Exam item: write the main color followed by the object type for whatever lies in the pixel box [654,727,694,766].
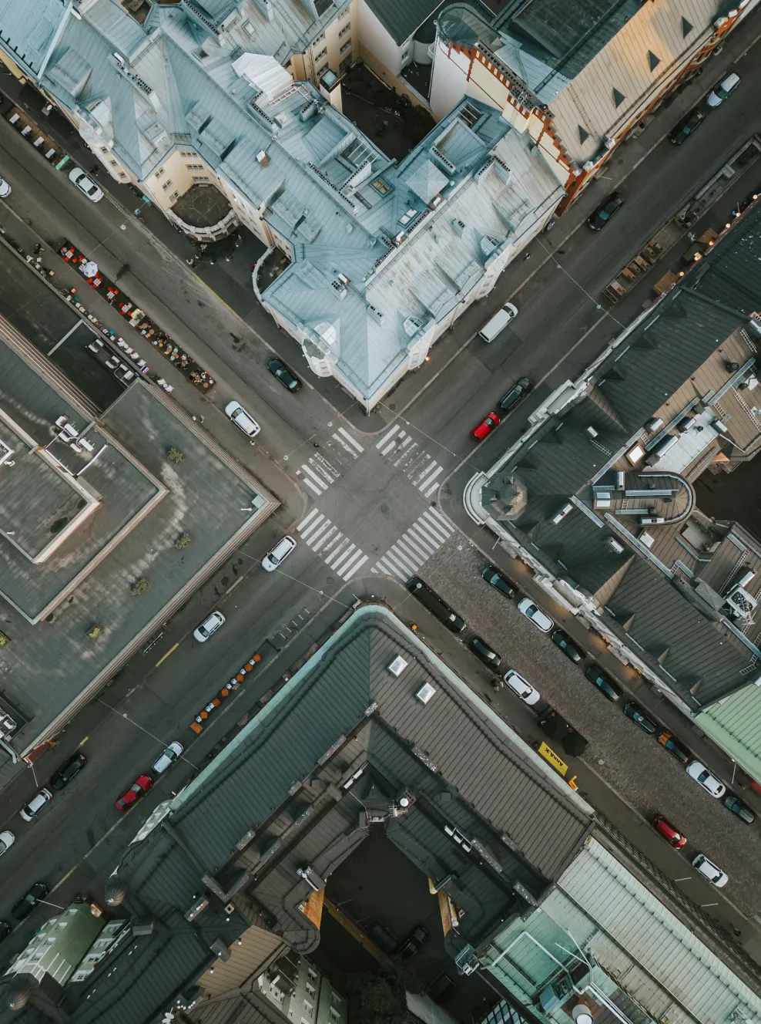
black car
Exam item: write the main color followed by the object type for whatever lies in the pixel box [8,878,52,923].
black car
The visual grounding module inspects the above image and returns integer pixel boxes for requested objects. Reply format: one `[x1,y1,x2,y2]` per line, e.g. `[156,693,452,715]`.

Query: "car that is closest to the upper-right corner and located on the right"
[702,69,745,113]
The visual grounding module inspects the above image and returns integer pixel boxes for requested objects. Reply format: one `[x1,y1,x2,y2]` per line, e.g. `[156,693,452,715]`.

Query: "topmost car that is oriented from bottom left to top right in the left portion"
[258,531,301,574]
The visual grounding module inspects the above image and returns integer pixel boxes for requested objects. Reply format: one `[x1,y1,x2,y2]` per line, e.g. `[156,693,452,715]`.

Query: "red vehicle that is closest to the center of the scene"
[469,410,502,443]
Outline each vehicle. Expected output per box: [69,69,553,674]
[478,561,522,604]
[649,812,689,851]
[467,634,503,670]
[146,737,188,779]
[112,771,155,814]
[49,746,93,791]
[499,665,543,707]
[687,847,731,890]
[654,727,694,766]
[65,163,107,208]
[264,353,306,395]
[190,605,229,645]
[476,301,520,346]
[403,574,469,636]
[222,397,266,441]
[720,789,759,827]
[547,627,587,666]
[514,595,557,636]
[581,661,626,704]
[16,782,57,824]
[8,878,52,923]
[394,919,435,963]
[494,375,534,416]
[702,69,745,113]
[258,531,301,574]
[666,105,709,149]
[685,758,727,799]
[620,697,661,737]
[469,410,502,443]
[362,914,402,957]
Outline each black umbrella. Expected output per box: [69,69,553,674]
[558,728,590,759]
[539,710,573,744]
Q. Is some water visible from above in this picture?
No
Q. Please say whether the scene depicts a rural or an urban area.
urban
